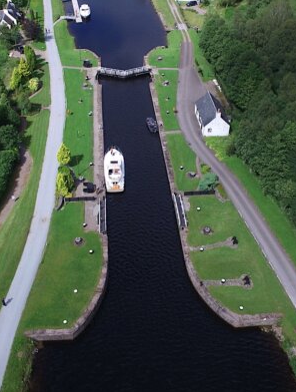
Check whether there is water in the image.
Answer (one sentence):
Yes, water shows up in the scene.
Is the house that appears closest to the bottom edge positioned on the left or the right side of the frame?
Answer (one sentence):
The house that appears closest to the bottom edge appears in the right half of the scene.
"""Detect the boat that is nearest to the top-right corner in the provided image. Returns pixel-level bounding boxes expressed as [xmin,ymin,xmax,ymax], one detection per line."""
[147,116,160,135]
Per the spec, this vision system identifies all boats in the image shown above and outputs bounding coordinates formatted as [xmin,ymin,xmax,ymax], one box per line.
[147,116,160,135]
[80,1,91,19]
[106,143,127,196]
